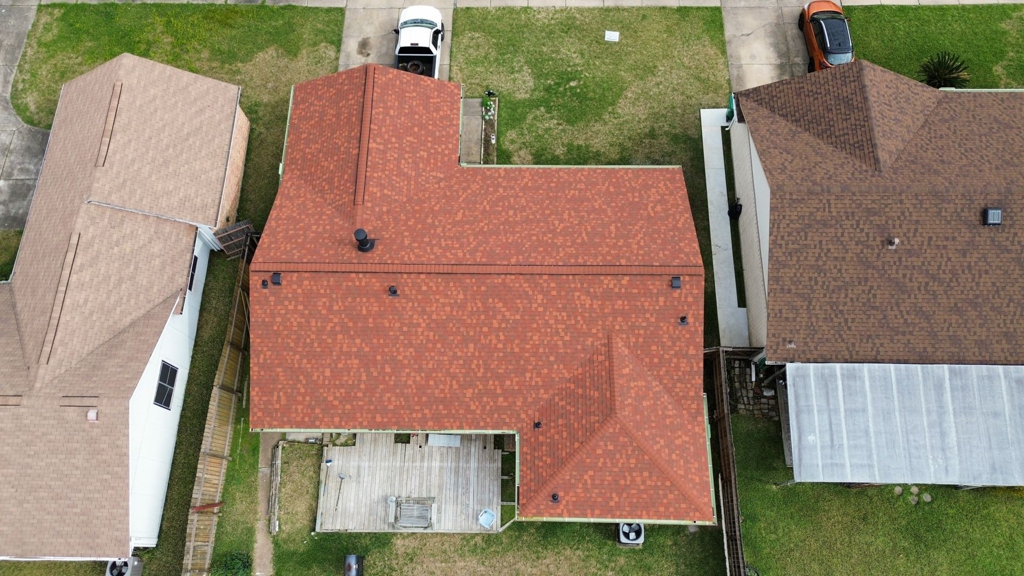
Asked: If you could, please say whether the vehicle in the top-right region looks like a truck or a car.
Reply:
car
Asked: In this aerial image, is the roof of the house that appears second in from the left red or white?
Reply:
red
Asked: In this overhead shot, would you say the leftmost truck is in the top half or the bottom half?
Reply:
top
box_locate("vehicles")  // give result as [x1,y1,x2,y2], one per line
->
[392,3,448,80]
[798,1,858,73]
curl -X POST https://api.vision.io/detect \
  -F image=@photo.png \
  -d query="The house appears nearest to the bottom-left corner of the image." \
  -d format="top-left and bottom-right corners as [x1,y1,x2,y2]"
[0,56,249,561]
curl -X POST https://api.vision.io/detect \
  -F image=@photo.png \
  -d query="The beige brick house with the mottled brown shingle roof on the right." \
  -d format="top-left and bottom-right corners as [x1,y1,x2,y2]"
[723,61,1024,370]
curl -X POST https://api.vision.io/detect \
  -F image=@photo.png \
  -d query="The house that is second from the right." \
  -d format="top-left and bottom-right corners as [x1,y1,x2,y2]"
[249,64,716,524]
